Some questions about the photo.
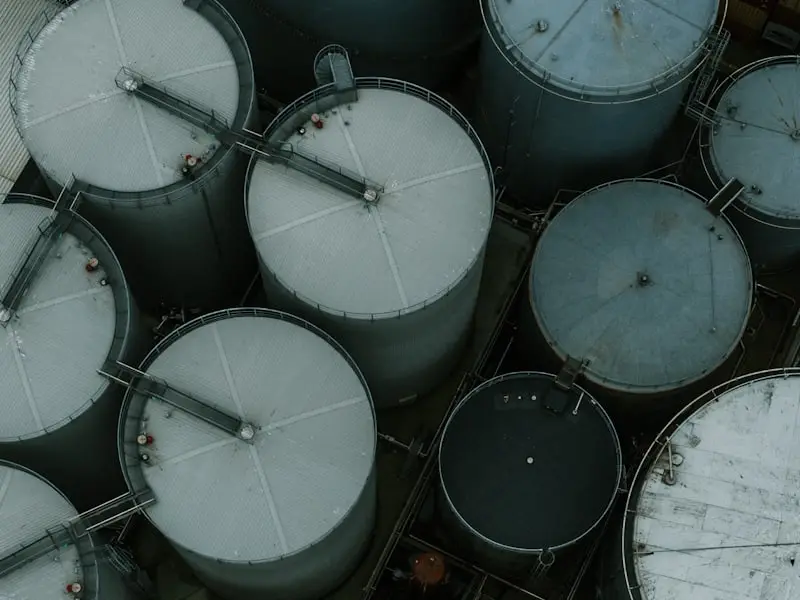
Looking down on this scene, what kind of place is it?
industrial area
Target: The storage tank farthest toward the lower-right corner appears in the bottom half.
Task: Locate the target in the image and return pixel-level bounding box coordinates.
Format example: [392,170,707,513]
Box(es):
[609,368,800,600]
